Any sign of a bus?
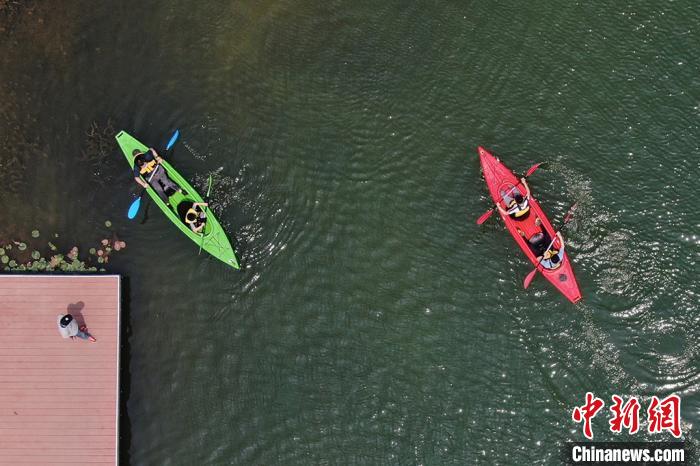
No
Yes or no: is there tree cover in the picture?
No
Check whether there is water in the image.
Yes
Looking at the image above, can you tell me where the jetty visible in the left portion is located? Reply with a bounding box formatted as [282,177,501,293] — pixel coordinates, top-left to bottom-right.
[0,273,131,466]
